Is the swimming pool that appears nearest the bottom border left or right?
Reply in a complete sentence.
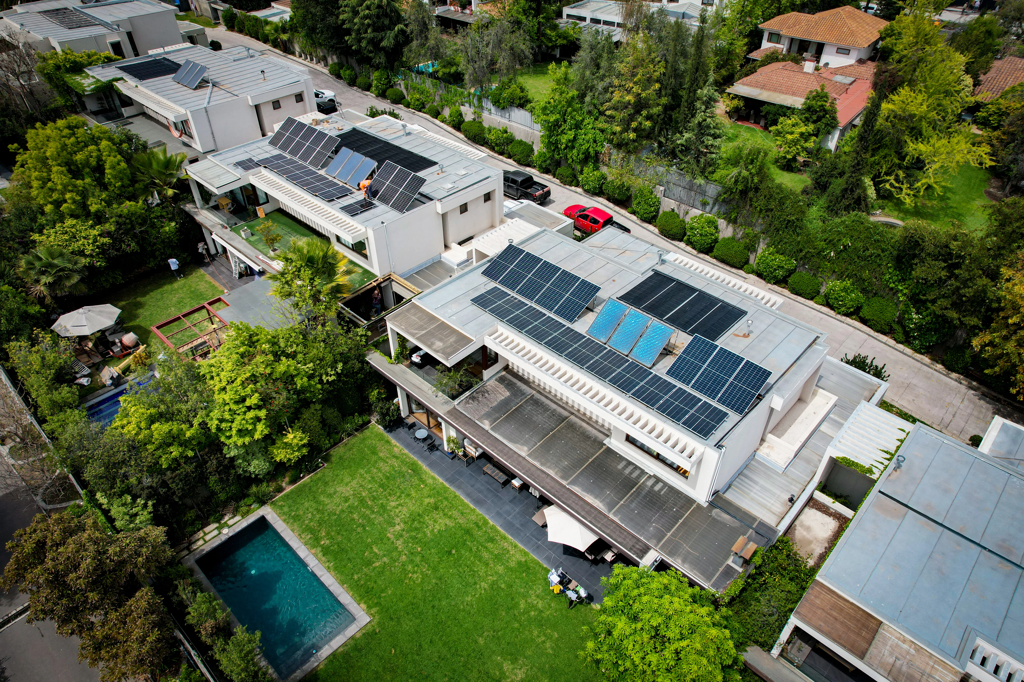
The swimming pool that appears nearest the bottom border sits on the left side.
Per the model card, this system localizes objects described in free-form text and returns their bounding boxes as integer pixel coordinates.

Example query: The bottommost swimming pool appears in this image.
[180,504,372,682]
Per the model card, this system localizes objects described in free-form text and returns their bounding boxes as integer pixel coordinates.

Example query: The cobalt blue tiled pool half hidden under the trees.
[64,360,216,485]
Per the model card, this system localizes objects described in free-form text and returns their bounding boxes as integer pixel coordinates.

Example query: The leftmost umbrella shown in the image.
[52,300,122,355]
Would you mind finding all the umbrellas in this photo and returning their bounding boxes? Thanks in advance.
[531,493,543,514]
[538,507,595,559]
[52,300,122,355]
